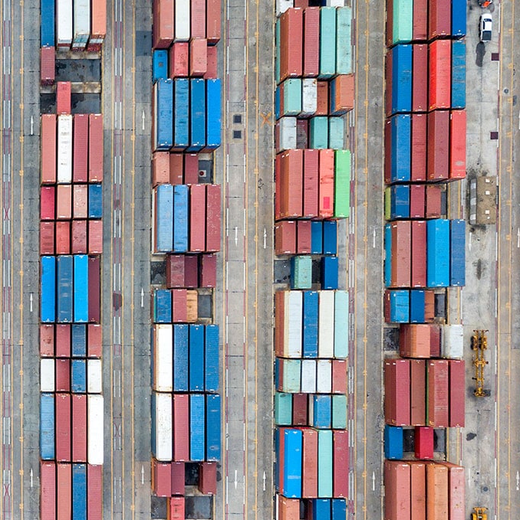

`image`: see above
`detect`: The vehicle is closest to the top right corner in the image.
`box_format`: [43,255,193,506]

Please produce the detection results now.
[478,14,492,44]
